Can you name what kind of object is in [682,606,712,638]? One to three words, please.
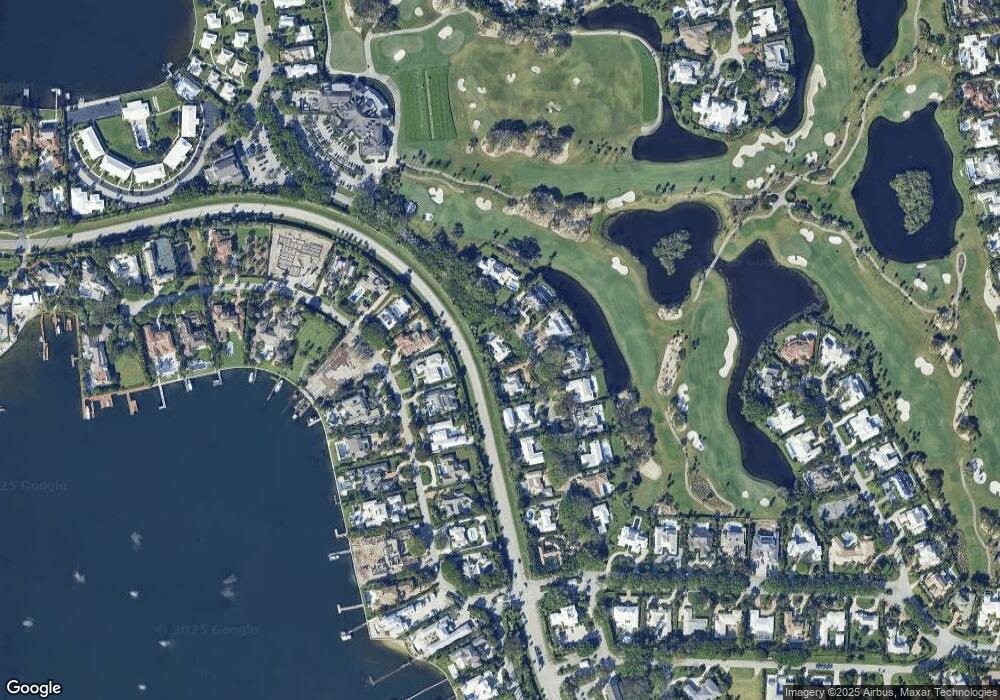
house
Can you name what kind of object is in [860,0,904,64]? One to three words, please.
pond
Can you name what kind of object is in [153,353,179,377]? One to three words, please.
swimming pool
